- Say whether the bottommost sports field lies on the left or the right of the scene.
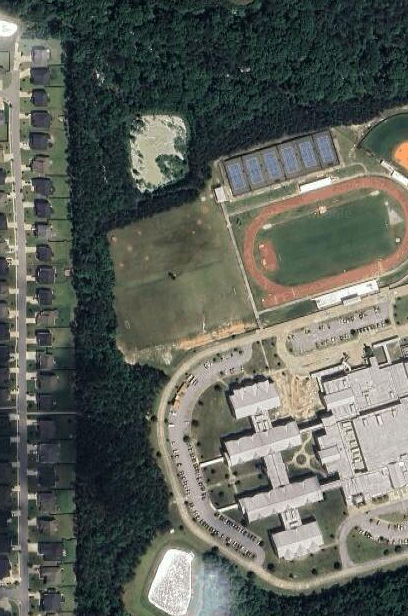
right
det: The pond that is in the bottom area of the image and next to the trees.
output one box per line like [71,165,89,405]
[148,549,192,616]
